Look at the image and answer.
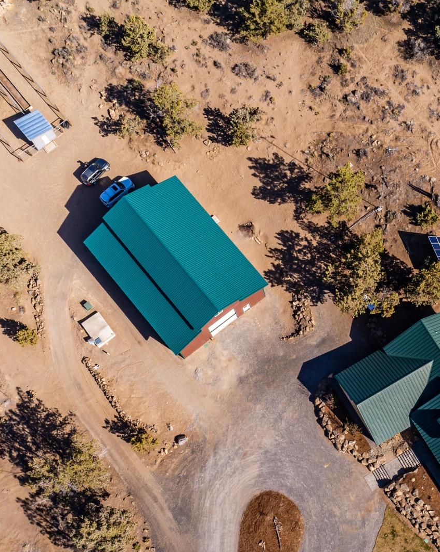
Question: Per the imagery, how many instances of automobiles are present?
2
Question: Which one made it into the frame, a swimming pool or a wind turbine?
wind turbine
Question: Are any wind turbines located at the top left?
No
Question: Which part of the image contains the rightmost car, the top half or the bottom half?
top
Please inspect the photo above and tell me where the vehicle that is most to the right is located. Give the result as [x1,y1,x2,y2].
[100,175,135,206]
